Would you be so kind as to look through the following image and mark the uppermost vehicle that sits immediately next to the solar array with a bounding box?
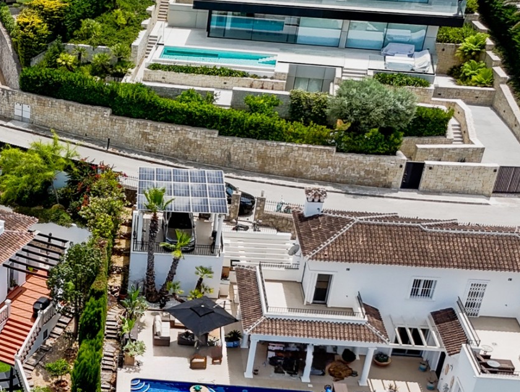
[224,179,282,215]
